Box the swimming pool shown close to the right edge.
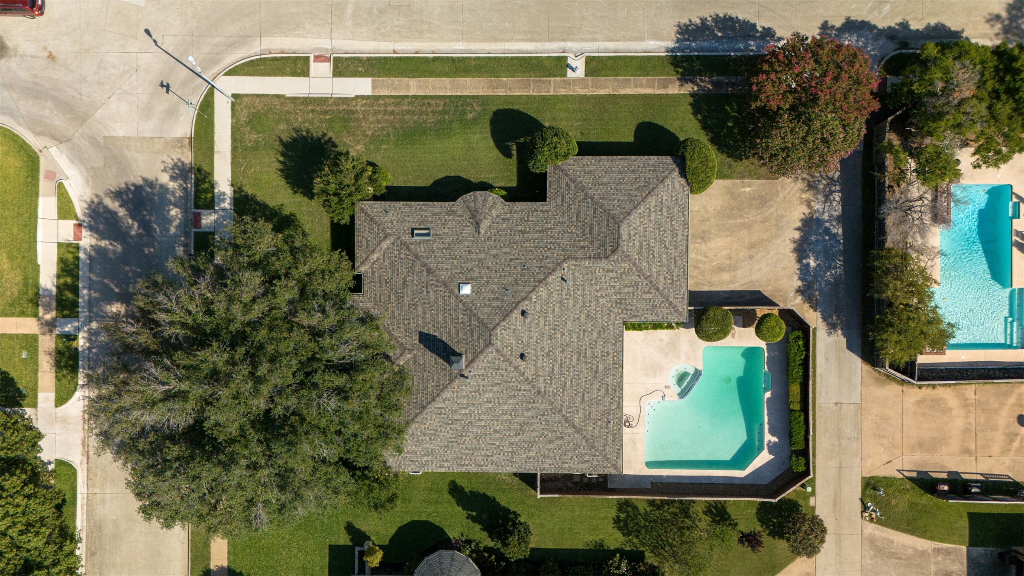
[935,184,1024,349]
